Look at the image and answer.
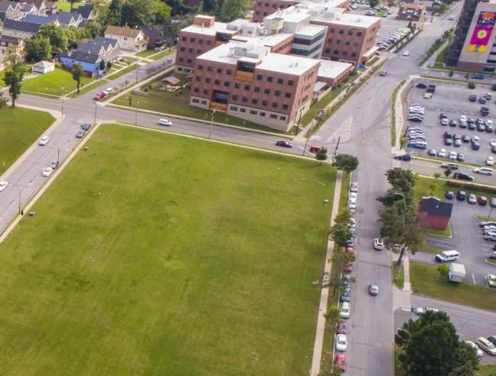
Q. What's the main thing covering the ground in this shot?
grass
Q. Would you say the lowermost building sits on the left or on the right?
right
